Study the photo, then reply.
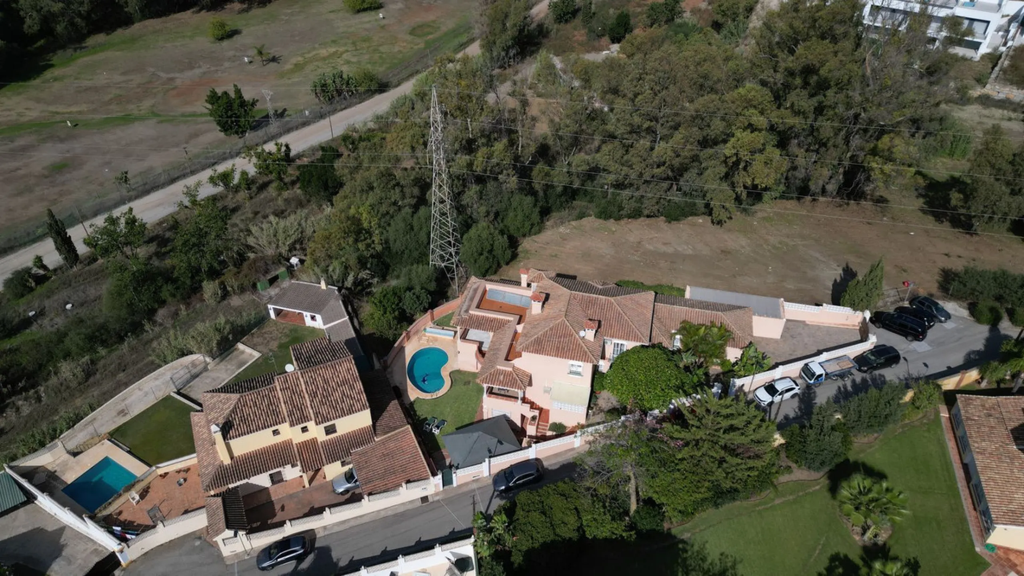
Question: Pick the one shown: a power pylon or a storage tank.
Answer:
power pylon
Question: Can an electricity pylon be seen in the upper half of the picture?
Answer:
Yes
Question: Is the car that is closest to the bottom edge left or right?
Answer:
left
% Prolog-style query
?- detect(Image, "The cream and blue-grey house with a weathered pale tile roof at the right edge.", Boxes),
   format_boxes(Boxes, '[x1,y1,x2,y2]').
[947,394,1024,546]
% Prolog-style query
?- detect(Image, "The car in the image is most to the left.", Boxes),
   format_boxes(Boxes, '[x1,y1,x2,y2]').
[253,527,314,569]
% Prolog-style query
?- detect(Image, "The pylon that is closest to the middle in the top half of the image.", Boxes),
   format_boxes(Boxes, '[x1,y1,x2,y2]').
[429,83,468,294]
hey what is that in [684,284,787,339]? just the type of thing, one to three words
building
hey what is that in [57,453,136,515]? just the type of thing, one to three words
swimming pool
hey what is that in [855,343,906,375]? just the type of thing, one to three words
car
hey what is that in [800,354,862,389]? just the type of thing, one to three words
truck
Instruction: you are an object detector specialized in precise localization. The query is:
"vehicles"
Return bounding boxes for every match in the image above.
[906,288,960,323]
[800,354,862,389]
[327,465,361,496]
[491,455,548,492]
[855,343,906,375]
[755,371,806,405]
[253,527,314,569]
[868,309,936,344]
